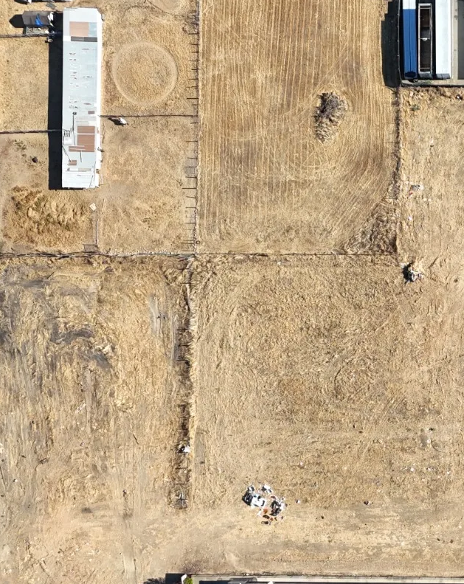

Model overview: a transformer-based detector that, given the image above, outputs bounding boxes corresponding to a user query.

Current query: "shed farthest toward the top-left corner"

[23,12,55,29]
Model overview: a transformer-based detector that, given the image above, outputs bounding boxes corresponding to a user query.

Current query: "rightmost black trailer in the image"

[419,2,433,76]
